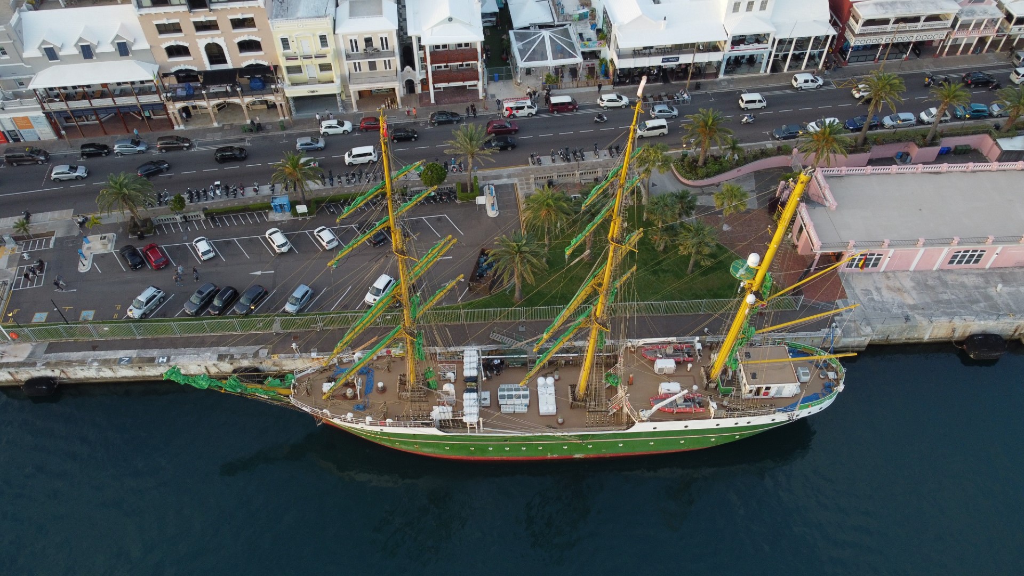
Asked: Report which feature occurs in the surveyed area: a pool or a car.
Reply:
car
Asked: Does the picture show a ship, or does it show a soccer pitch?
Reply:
ship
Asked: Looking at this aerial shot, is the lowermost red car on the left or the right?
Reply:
left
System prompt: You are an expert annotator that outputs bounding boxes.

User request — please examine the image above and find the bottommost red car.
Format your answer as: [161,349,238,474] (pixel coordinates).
[140,242,168,269]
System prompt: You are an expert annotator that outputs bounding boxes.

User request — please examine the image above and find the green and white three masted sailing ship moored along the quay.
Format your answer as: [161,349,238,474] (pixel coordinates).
[162,80,869,460]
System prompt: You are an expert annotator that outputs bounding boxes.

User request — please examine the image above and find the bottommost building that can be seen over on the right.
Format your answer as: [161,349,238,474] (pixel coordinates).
[790,156,1024,275]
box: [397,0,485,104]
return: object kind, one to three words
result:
building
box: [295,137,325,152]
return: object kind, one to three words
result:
car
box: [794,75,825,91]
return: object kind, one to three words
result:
vehicle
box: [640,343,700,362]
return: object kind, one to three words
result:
boat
